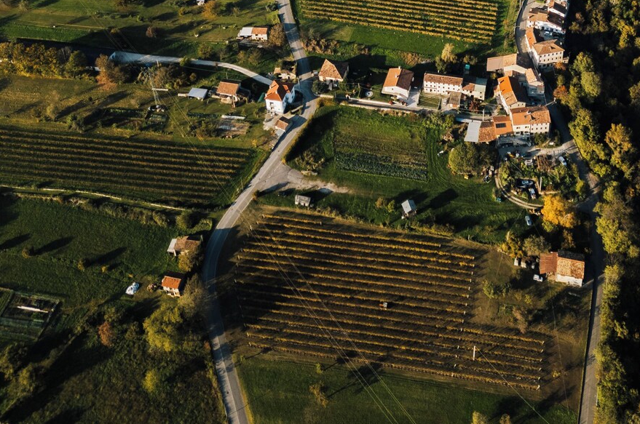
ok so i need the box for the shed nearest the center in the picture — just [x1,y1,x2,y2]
[293,186,315,206]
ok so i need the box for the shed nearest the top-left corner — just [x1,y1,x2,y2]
[188,77,213,95]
